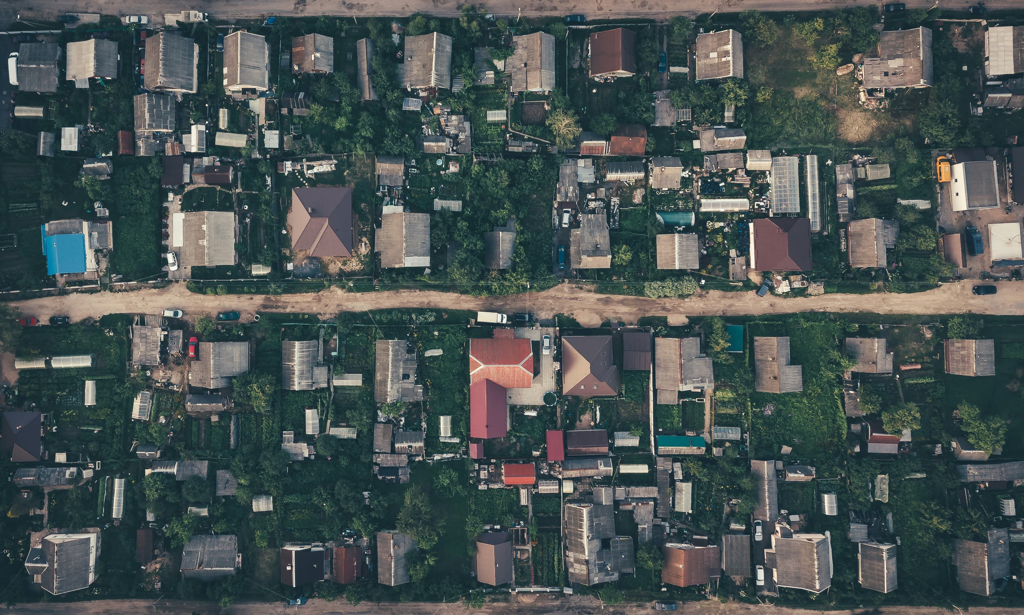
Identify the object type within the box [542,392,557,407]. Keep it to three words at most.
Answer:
swimming pool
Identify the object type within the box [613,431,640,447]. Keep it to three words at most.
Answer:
greenhouse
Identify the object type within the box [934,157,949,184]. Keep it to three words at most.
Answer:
vehicle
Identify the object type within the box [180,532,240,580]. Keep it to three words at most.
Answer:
house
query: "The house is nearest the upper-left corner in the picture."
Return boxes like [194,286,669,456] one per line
[17,43,64,93]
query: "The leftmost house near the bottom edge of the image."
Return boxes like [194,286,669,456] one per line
[23,532,102,592]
